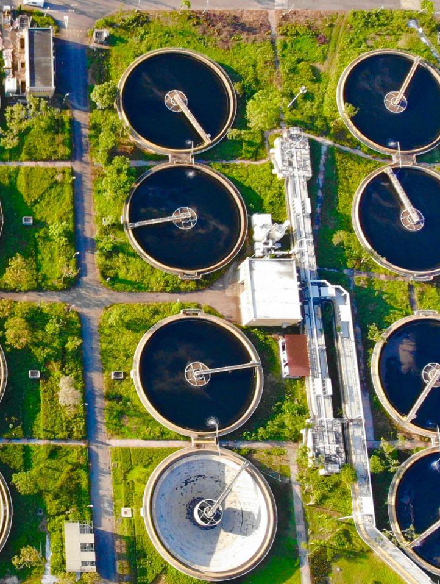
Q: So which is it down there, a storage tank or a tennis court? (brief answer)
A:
storage tank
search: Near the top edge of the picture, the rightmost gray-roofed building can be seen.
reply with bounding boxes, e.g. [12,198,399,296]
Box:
[15,27,56,98]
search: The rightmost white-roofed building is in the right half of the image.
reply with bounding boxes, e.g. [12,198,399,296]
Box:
[235,258,304,328]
